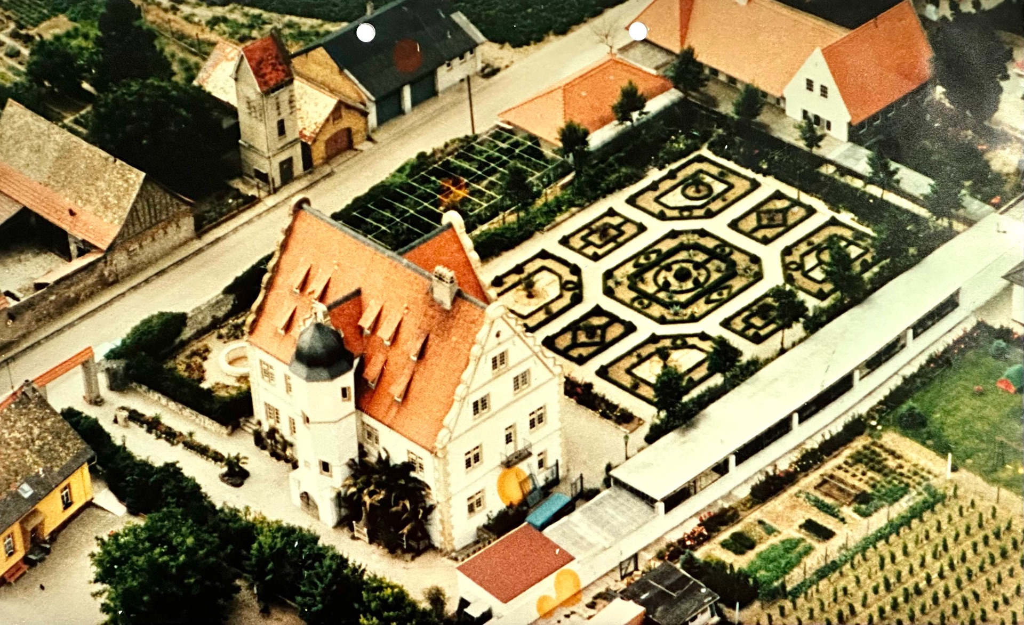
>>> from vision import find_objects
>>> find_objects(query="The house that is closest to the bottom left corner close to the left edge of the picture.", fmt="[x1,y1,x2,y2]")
[0,373,98,588]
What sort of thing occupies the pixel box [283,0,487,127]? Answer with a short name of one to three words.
building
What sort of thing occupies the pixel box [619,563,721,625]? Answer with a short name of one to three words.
shed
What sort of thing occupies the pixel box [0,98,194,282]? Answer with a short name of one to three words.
barn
